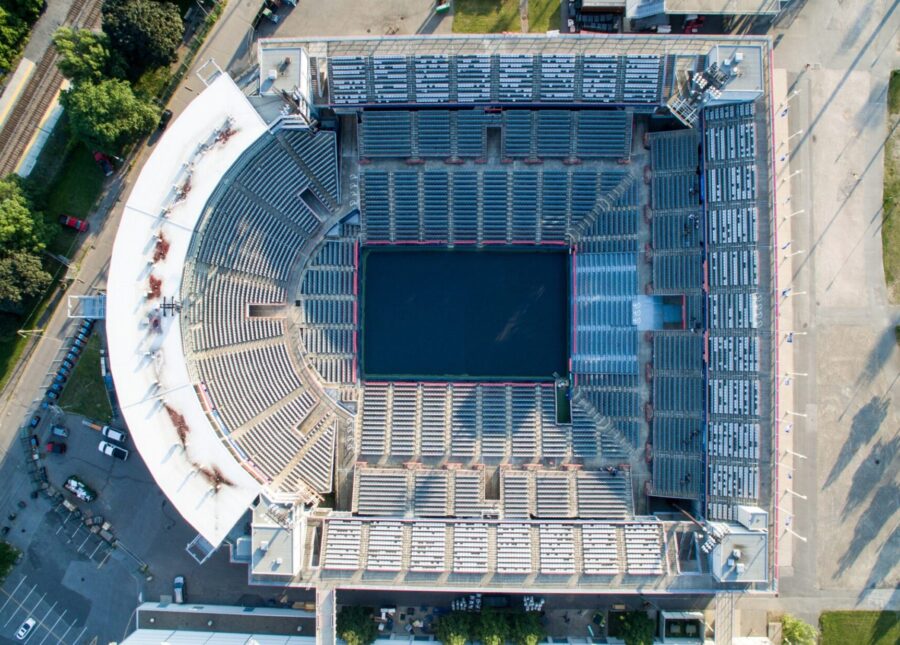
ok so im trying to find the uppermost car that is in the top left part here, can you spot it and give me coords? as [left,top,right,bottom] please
[156,106,175,131]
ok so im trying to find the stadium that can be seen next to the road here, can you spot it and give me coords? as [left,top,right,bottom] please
[64,40,781,591]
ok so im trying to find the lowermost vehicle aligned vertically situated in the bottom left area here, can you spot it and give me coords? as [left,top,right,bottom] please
[171,577,184,605]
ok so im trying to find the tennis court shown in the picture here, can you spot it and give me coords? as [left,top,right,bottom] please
[359,246,572,380]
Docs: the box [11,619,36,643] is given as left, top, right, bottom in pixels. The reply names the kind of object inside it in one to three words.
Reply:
car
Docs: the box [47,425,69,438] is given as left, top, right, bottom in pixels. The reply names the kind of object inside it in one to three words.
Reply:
vehicle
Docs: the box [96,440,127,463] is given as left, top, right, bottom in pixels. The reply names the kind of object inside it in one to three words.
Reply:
truck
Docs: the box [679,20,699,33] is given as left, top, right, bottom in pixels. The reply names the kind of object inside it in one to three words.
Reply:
vehicle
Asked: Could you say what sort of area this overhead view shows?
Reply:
sports ground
